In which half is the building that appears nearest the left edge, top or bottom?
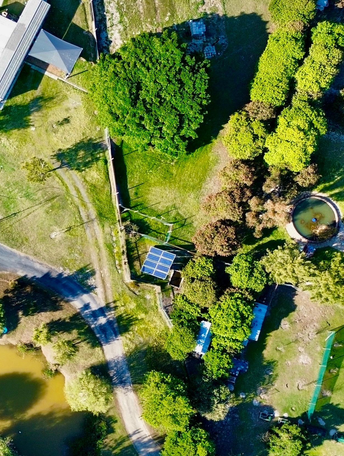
top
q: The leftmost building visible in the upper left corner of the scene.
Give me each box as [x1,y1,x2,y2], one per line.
[0,0,51,100]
